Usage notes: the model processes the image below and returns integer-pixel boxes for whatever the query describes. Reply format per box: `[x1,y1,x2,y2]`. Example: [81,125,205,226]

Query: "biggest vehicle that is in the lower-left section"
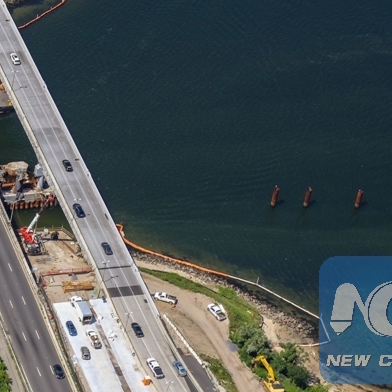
[72,297,94,323]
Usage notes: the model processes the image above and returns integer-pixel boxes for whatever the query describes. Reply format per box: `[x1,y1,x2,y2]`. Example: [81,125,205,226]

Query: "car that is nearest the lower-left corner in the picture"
[53,364,65,379]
